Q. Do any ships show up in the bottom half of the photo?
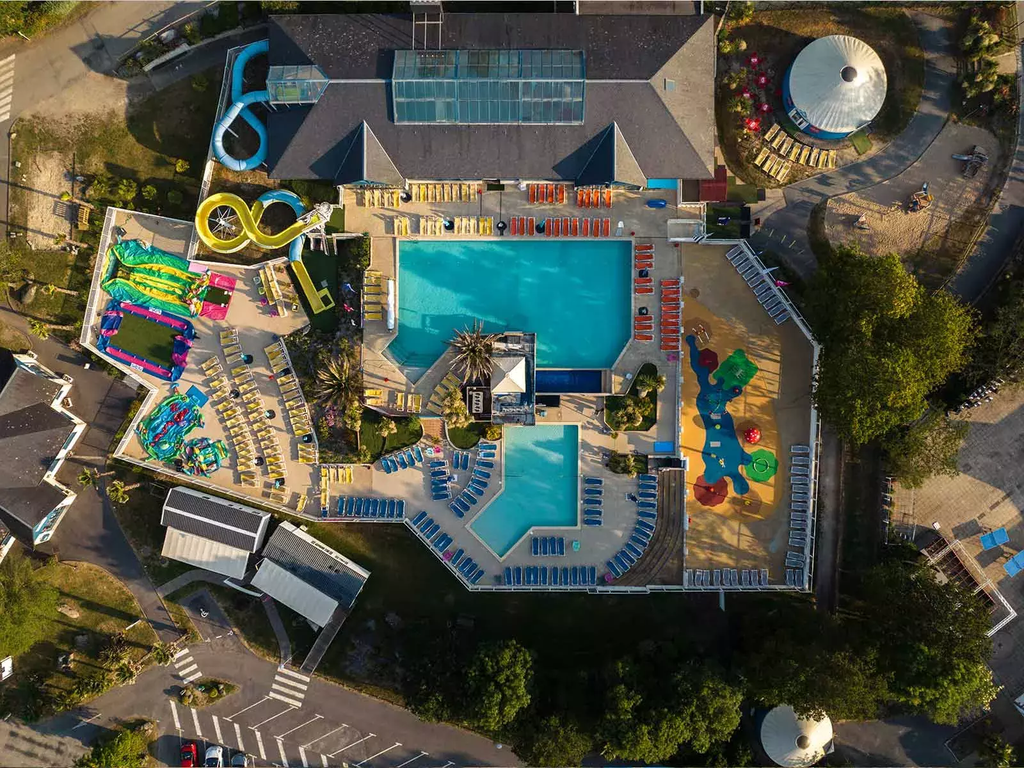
No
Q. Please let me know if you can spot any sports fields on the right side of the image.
No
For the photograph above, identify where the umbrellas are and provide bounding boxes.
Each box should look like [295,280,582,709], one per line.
[272,477,286,487]
[638,306,649,316]
[496,219,507,231]
[223,389,239,400]
[249,456,264,467]
[238,353,253,364]
[274,368,291,378]
[443,219,454,231]
[400,189,411,202]
[638,269,649,278]
[535,221,545,232]
[299,433,312,443]
[261,409,276,419]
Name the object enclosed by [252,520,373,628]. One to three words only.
building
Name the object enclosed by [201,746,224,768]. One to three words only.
car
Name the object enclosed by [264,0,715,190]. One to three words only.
building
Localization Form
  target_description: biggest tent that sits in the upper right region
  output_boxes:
[777,35,887,144]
